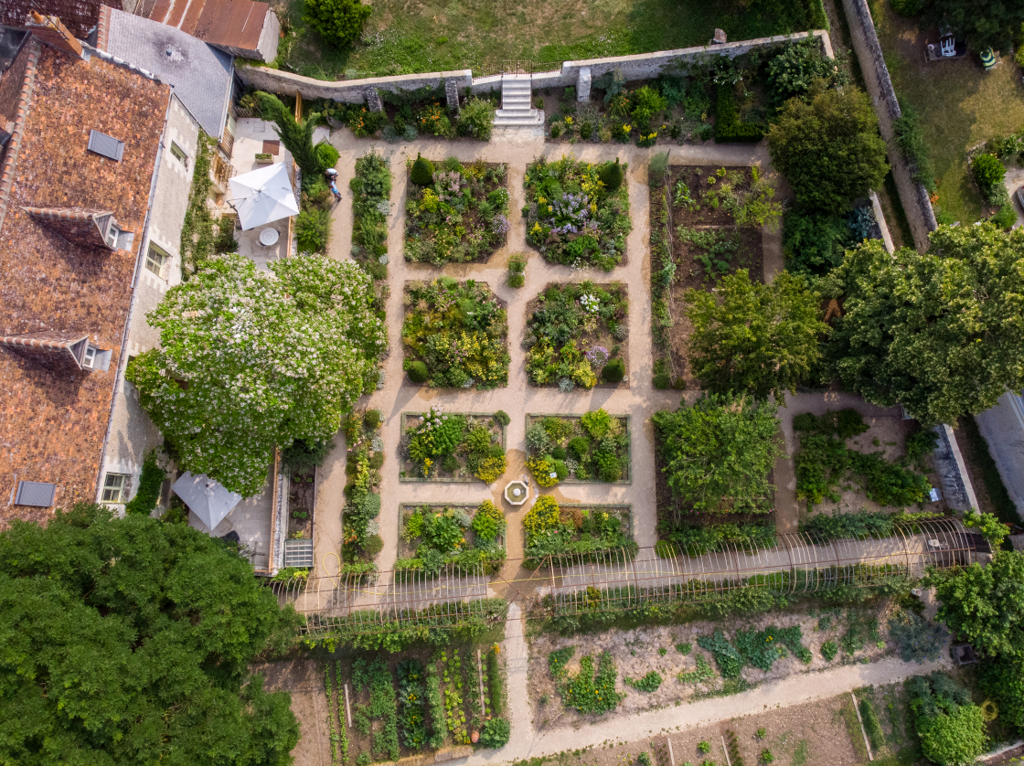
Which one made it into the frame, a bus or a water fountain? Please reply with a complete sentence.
I can see a water fountain in this picture.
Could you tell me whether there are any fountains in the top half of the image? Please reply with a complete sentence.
No, no fountain is visible in the top half of the image.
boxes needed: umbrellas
[156,467,243,530]
[217,162,300,232]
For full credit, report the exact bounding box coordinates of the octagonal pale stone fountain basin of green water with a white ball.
[504,480,529,505]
